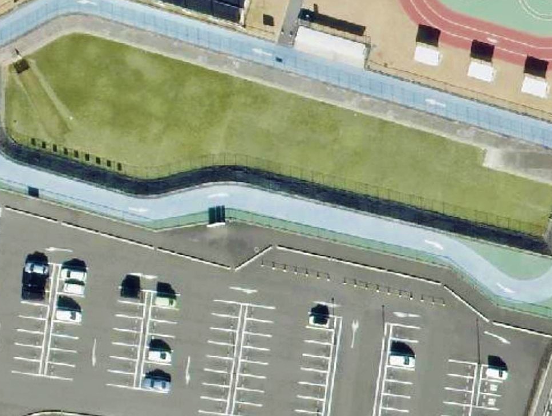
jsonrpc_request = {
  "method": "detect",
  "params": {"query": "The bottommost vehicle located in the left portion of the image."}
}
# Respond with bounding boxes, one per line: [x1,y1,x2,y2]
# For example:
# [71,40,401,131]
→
[142,380,171,394]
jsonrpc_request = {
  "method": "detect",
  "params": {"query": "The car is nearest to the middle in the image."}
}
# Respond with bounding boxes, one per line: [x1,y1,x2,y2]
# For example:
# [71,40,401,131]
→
[308,315,331,328]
